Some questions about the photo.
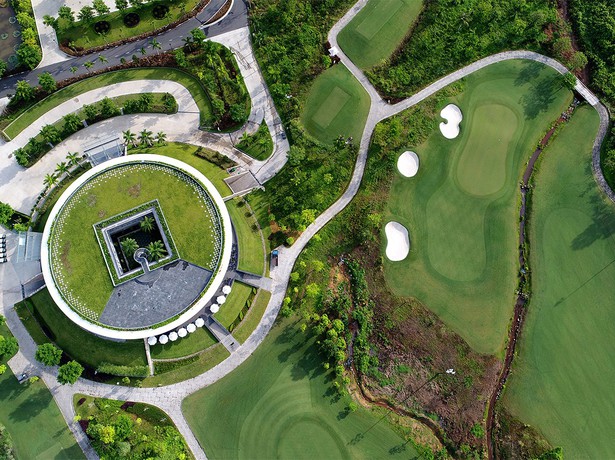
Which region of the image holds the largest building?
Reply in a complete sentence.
The largest building is in the left part of the image.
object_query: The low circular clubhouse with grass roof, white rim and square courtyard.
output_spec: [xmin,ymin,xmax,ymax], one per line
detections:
[41,153,232,337]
